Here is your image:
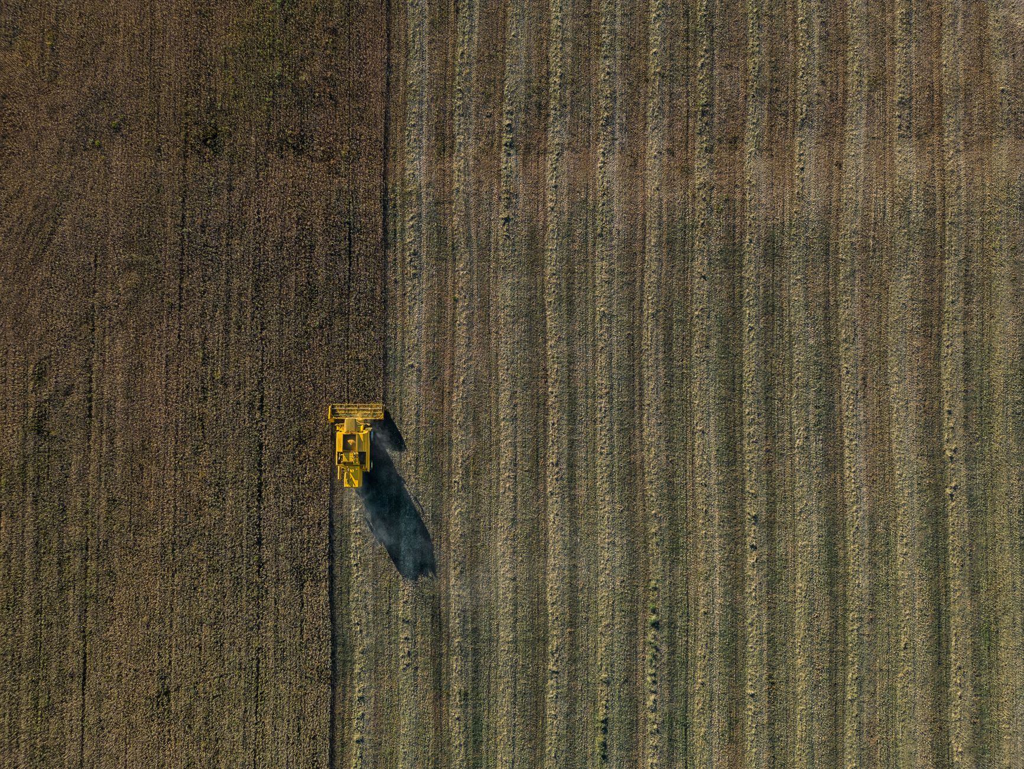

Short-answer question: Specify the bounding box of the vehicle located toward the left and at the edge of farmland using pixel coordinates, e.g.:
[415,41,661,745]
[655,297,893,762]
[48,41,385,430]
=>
[329,400,386,487]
